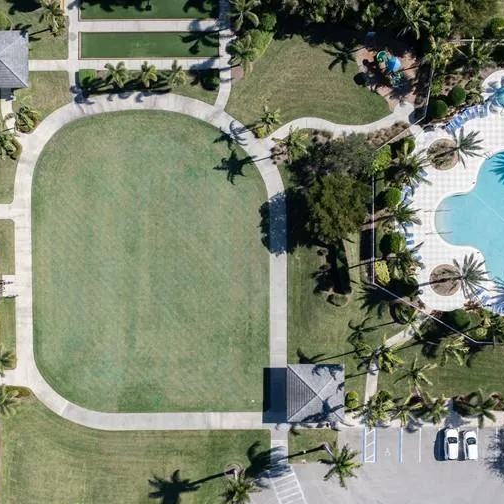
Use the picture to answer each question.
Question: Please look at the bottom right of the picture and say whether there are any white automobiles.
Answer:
Yes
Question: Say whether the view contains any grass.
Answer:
Yes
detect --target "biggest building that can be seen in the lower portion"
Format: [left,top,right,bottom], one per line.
[287,364,345,422]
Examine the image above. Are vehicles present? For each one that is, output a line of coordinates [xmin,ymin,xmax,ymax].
[443,427,459,459]
[463,429,479,460]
